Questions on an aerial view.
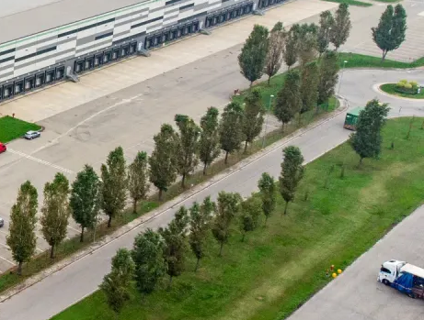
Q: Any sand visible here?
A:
No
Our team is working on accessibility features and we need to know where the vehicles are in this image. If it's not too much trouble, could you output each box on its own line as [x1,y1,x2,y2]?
[376,266,424,296]
[0,141,9,153]
[344,107,361,127]
[0,216,7,227]
[24,128,43,139]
